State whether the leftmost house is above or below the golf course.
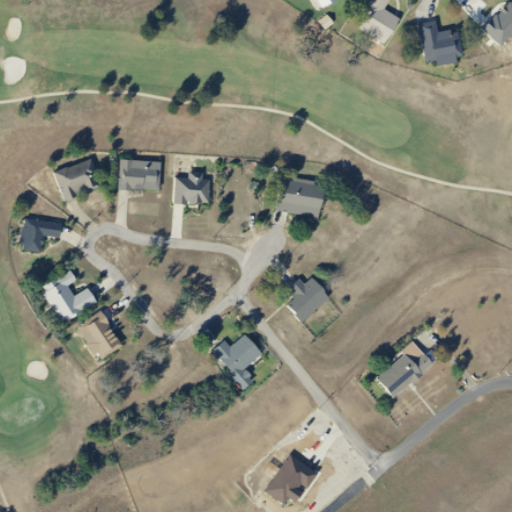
below it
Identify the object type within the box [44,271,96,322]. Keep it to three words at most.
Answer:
house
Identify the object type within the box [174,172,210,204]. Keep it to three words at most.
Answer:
house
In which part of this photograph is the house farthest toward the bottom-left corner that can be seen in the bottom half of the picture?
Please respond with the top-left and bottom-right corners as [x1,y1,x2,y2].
[81,312,120,358]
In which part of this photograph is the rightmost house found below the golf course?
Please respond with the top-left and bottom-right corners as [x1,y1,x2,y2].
[379,342,433,398]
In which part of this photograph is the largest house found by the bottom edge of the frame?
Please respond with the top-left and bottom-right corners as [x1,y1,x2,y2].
[264,451,321,510]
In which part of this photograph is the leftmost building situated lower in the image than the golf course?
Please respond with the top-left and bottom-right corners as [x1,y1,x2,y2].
[22,218,62,253]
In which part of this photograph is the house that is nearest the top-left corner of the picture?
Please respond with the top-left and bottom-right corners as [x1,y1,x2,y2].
[54,160,98,202]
